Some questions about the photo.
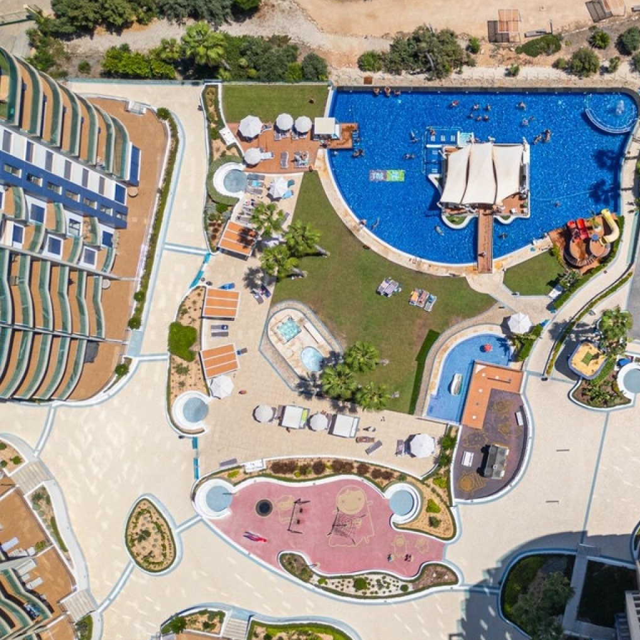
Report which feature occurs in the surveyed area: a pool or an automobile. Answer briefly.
pool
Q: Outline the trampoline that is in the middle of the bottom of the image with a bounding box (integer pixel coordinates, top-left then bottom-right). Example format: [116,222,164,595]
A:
[255,499,272,516]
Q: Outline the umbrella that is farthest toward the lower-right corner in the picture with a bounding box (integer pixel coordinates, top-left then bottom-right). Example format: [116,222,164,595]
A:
[409,431,436,458]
